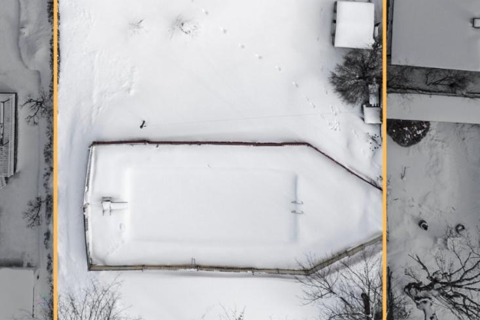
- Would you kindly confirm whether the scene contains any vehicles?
No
